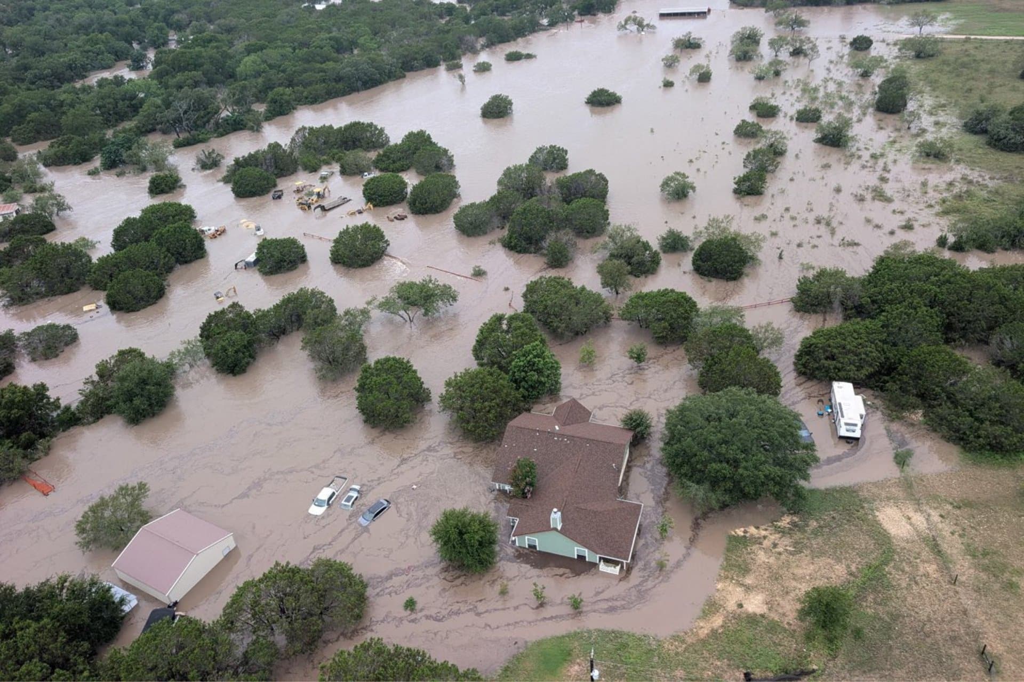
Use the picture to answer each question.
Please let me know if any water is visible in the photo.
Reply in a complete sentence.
Yes, water shows up in the scene.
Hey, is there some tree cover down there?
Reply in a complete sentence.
Yes, tree cover shows up in the scene.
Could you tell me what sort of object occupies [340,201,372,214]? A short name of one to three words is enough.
vehicle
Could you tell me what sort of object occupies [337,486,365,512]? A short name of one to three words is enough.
car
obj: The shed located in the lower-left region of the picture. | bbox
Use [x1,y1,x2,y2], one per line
[111,508,234,602]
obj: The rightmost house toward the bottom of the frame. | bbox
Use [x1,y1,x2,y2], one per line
[491,398,643,575]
